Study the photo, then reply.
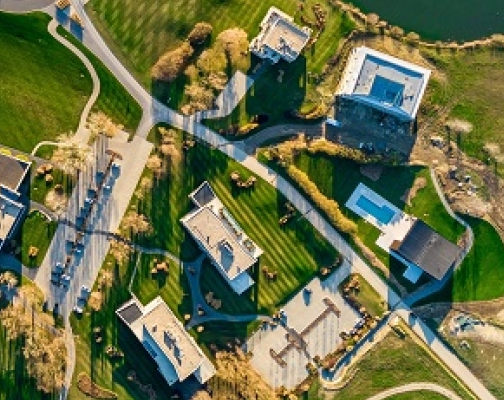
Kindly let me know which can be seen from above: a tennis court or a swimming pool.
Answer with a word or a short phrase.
swimming pool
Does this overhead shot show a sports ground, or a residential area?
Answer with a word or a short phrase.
residential area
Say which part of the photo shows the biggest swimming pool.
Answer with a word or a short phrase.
right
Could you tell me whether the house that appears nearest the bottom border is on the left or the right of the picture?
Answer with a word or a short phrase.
left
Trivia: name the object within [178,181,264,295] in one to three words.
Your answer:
house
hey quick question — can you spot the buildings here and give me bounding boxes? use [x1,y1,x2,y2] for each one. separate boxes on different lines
[0,151,32,250]
[340,47,430,124]
[115,292,215,386]
[178,181,264,295]
[248,7,313,65]
[389,220,463,283]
